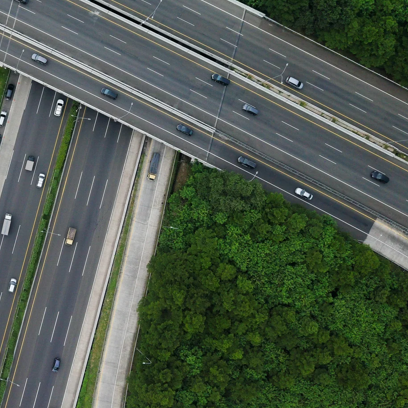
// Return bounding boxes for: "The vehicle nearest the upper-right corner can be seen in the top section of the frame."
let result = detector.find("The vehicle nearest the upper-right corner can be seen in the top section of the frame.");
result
[285,76,303,89]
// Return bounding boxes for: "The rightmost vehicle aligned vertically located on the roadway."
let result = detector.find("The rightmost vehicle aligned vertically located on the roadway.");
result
[147,151,160,181]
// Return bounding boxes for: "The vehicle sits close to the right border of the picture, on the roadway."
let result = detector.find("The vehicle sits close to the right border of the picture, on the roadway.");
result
[370,171,389,185]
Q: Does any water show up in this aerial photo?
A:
No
